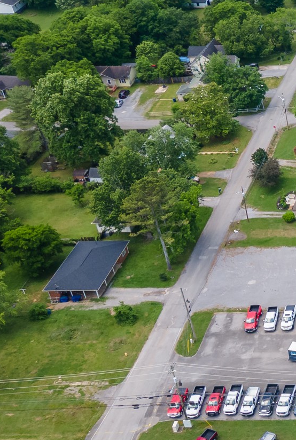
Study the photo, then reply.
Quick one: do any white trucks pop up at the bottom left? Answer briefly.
No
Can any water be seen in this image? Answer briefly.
No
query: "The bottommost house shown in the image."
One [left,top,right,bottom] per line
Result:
[50,287,169,310]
